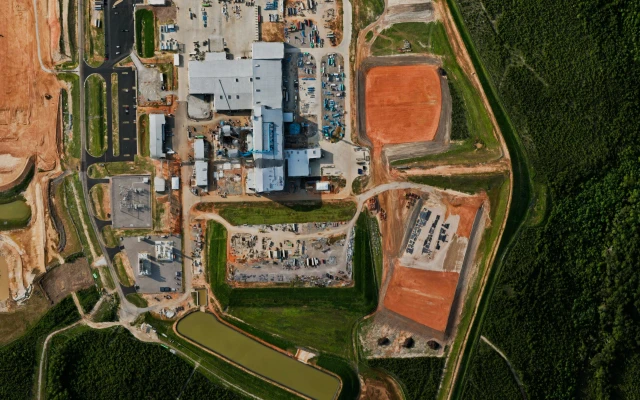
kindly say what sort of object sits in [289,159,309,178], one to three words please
building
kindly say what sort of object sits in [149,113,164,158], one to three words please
building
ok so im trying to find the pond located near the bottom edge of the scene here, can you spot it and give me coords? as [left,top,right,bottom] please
[177,310,339,400]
